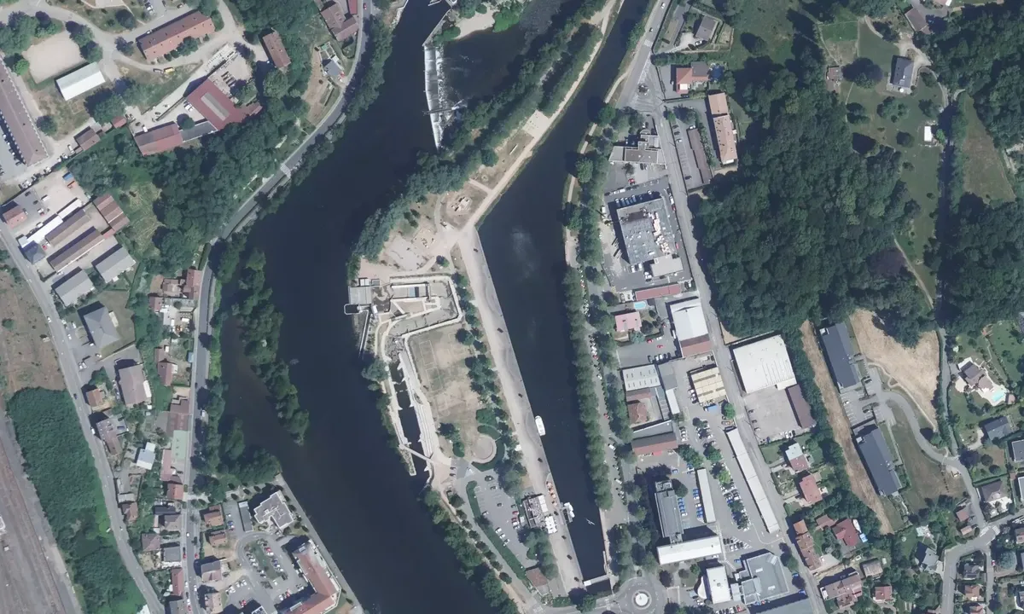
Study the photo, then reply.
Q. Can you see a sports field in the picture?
Yes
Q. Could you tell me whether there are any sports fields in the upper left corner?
Yes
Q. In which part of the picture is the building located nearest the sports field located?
top left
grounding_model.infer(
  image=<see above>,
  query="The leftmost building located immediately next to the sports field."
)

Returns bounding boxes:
[0,59,47,166]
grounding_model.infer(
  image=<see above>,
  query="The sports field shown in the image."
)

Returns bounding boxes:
[22,31,87,84]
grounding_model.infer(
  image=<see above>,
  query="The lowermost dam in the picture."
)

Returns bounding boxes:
[423,45,459,148]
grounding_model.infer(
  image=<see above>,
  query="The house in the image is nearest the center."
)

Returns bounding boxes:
[615,311,642,331]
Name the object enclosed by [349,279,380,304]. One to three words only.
building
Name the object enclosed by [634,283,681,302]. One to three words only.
shed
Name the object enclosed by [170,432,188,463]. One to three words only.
house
